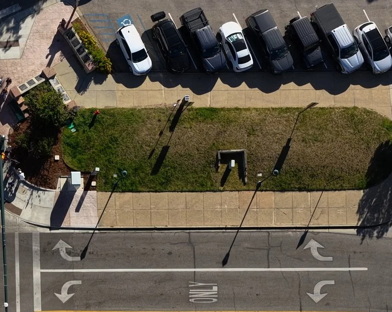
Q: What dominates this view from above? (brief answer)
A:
paved ground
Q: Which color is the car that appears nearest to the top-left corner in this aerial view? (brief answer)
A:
white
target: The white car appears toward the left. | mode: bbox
[116,24,151,78]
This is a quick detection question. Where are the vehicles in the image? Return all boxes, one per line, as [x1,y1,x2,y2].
[154,14,191,76]
[355,22,392,77]
[182,7,224,76]
[289,12,324,71]
[312,2,364,77]
[116,24,151,78]
[247,8,292,77]
[219,21,253,74]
